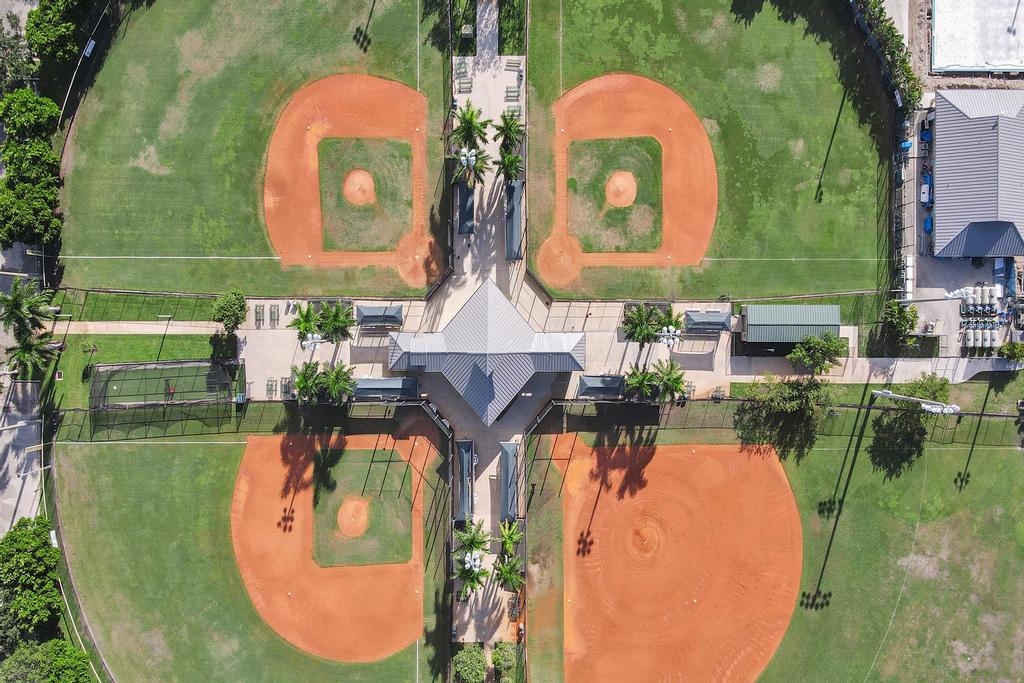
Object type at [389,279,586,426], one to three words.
building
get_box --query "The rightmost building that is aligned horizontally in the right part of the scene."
[742,304,843,343]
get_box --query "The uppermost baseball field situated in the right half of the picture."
[528,0,888,299]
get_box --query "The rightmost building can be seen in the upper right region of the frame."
[931,90,1024,257]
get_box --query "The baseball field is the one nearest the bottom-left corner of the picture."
[54,404,449,683]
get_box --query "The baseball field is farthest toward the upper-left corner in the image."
[59,0,448,297]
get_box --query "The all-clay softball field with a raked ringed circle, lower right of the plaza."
[527,402,1024,683]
